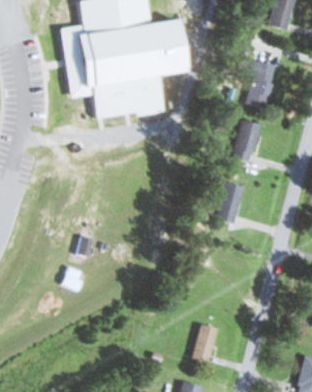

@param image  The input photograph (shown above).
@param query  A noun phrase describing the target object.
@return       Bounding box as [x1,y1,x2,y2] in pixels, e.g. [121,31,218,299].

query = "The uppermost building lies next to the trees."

[270,0,297,30]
